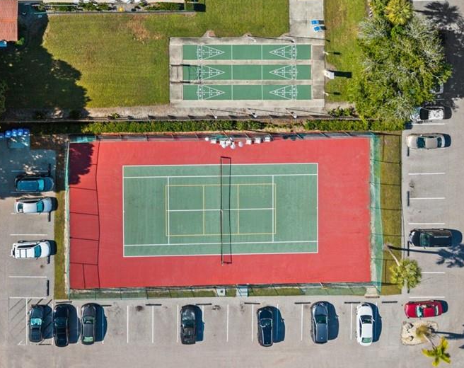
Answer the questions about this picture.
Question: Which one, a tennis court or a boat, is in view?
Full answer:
Looking from above, you can make out a tennis court.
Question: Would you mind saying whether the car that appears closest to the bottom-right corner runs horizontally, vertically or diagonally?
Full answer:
The car that appears closest to the bottom-right corner has been laid out horizontally relative to the frame.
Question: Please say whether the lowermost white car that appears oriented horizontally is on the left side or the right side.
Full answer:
The lowermost white car that appears oriented horizontally is on the left side of the image.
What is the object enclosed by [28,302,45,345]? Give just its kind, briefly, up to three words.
vehicle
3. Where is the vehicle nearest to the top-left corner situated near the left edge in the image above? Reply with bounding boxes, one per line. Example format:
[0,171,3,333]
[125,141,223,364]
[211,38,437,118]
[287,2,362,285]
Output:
[14,174,53,193]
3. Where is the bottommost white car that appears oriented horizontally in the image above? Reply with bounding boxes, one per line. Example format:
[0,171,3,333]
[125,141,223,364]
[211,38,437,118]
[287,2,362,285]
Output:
[10,240,51,260]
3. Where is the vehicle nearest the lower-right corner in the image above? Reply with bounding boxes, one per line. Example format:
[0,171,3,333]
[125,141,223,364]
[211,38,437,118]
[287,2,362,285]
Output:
[403,298,442,318]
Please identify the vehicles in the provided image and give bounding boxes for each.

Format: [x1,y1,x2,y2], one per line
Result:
[14,197,54,215]
[409,228,452,249]
[28,302,45,345]
[14,174,53,193]
[310,299,330,344]
[410,106,450,124]
[80,301,97,343]
[256,304,276,346]
[403,298,442,318]
[407,132,445,149]
[10,240,51,260]
[52,302,72,346]
[356,301,376,345]
[179,303,199,345]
